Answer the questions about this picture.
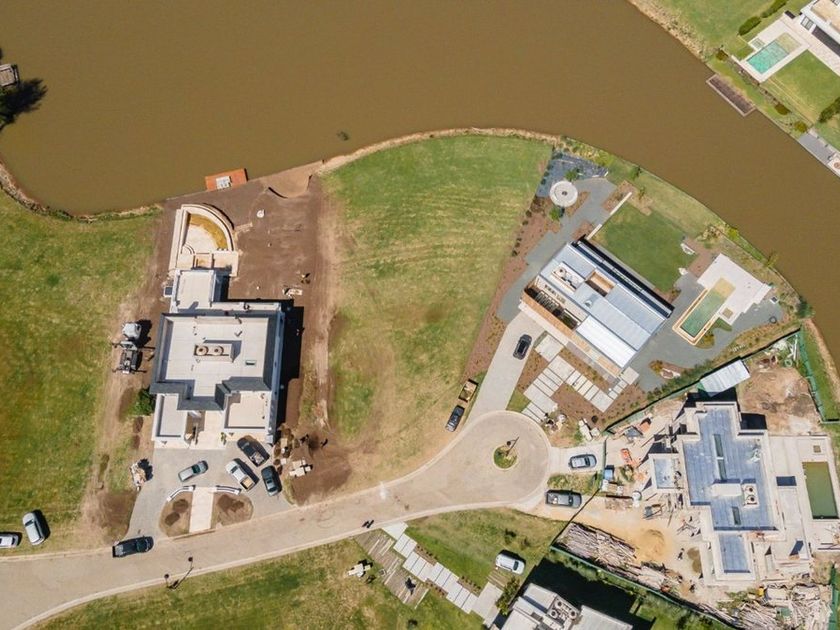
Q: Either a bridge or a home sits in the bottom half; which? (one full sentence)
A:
Visible in the bottom half is a home.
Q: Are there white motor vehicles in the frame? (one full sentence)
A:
Yes, a white motor vehicle is visible in the scene.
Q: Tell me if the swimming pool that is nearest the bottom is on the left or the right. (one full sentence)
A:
The swimming pool that is nearest the bottom sits on the right side.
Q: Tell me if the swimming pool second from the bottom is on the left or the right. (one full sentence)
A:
You can find the swimming pool second from the bottom on the right side of the picture.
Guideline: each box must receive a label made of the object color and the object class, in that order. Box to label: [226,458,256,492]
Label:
white truck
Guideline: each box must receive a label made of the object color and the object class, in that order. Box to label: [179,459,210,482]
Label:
gray car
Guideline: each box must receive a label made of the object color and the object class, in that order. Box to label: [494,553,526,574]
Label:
white car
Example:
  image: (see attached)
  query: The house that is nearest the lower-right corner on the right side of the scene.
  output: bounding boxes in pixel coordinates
[641,402,786,583]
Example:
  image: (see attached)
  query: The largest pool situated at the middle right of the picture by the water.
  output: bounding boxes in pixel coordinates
[673,253,771,340]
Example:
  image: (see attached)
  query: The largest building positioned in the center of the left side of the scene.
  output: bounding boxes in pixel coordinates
[149,269,286,449]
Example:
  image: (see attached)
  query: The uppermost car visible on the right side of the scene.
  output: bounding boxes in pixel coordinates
[514,333,532,361]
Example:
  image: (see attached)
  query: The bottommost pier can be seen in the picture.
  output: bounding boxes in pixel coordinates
[206,168,248,190]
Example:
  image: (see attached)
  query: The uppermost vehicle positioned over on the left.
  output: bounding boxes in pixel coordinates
[112,320,155,373]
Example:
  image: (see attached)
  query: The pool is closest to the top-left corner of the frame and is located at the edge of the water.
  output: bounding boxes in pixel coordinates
[170,203,240,278]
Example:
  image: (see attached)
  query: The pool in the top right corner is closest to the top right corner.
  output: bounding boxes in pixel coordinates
[741,16,809,81]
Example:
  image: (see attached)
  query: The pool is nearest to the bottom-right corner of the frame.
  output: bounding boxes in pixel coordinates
[802,462,836,518]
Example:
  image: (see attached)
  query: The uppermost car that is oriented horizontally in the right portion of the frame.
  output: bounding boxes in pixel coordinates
[567,454,597,469]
